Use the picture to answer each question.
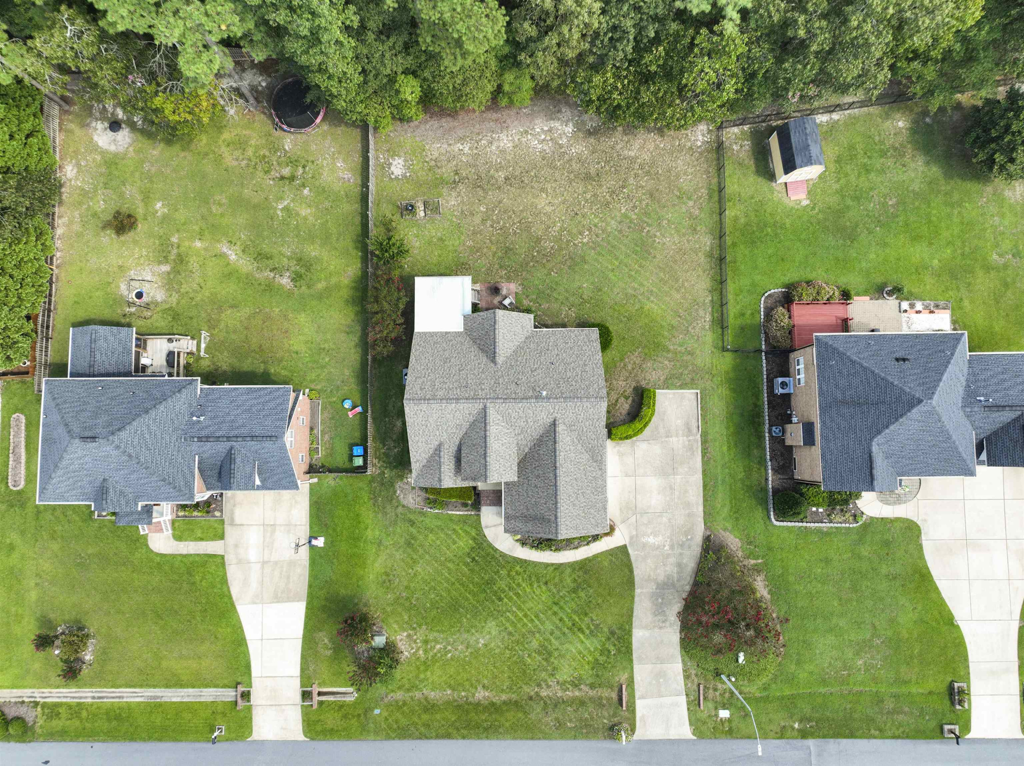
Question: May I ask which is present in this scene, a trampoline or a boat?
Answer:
trampoline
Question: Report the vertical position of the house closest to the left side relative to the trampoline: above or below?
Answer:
below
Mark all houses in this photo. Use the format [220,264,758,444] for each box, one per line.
[34,326,322,535]
[784,330,1024,493]
[404,275,610,539]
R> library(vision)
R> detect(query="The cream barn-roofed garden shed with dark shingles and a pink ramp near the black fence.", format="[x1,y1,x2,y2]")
[768,119,825,200]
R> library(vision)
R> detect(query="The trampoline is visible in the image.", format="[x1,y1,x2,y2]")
[272,80,327,135]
